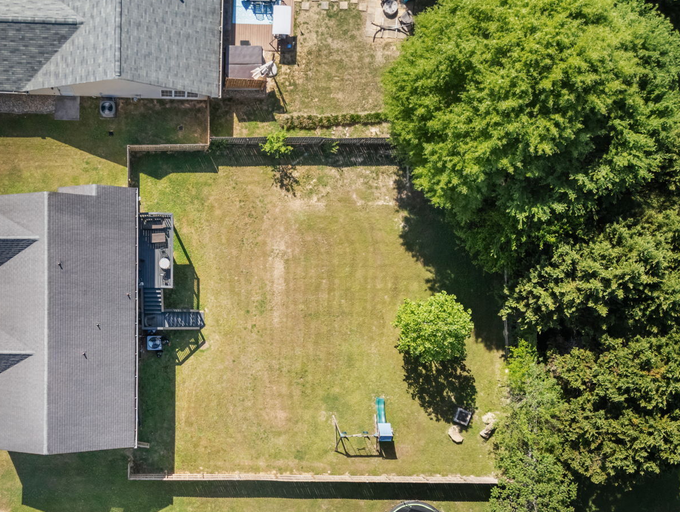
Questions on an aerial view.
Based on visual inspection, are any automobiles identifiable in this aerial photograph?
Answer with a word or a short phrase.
No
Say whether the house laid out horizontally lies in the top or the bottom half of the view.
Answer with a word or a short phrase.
top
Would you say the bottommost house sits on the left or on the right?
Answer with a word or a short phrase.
left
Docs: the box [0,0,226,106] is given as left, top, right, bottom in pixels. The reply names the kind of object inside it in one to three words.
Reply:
house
